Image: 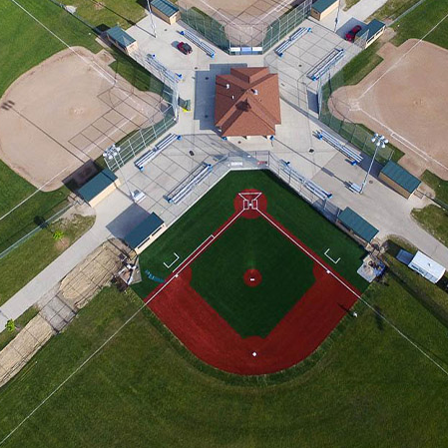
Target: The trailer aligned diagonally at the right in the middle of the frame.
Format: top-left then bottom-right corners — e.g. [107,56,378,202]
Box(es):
[399,250,445,285]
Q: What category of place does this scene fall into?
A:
sports ground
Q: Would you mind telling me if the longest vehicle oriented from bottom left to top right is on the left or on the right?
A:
right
